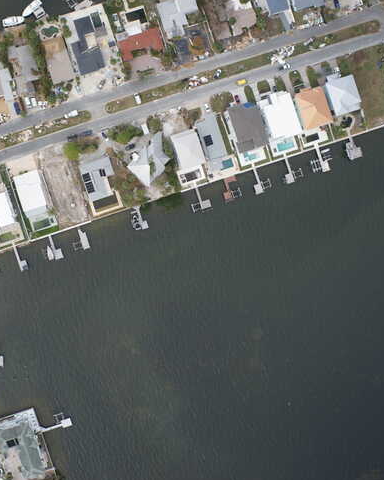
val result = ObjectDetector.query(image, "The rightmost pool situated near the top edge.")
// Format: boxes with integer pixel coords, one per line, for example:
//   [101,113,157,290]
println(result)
[125,7,147,25]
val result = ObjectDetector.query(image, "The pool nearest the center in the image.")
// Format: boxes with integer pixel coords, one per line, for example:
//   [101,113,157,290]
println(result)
[182,167,203,183]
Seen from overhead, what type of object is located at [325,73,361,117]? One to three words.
house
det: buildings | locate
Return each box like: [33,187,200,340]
[257,91,303,141]
[158,0,198,39]
[0,192,17,229]
[0,69,14,102]
[325,73,361,117]
[197,115,226,159]
[116,20,164,62]
[171,129,205,171]
[9,46,39,82]
[43,38,71,84]
[14,171,47,213]
[216,0,256,39]
[0,424,45,478]
[264,0,289,17]
[227,103,269,153]
[72,16,105,75]
[293,88,333,130]
[290,0,325,12]
[80,158,114,201]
